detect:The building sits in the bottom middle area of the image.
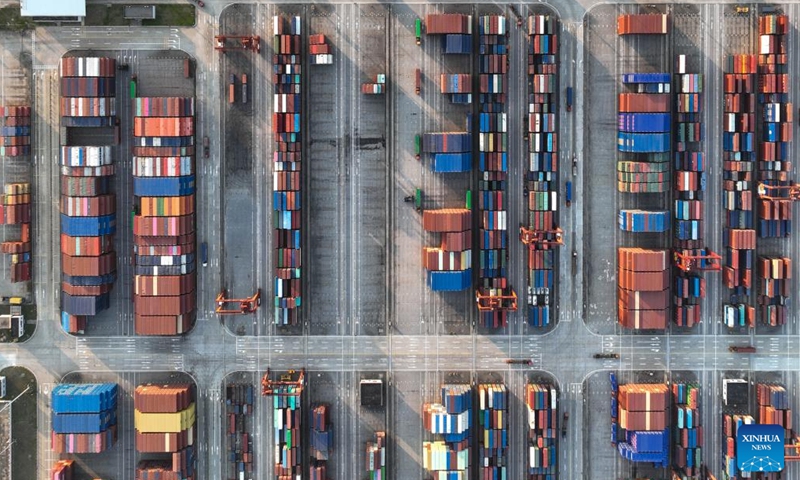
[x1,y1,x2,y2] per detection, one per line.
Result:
[361,378,383,408]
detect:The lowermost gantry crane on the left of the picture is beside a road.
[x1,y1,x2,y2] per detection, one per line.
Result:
[261,364,306,397]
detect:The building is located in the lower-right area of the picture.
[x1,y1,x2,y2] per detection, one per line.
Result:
[719,377,745,405]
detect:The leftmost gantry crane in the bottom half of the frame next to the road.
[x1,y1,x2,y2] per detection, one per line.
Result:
[213,288,260,316]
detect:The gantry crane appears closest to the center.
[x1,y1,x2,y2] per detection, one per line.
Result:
[474,284,518,311]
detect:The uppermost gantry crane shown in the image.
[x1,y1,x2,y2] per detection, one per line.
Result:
[213,35,260,56]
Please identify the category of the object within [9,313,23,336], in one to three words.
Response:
building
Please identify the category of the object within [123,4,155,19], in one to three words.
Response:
building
